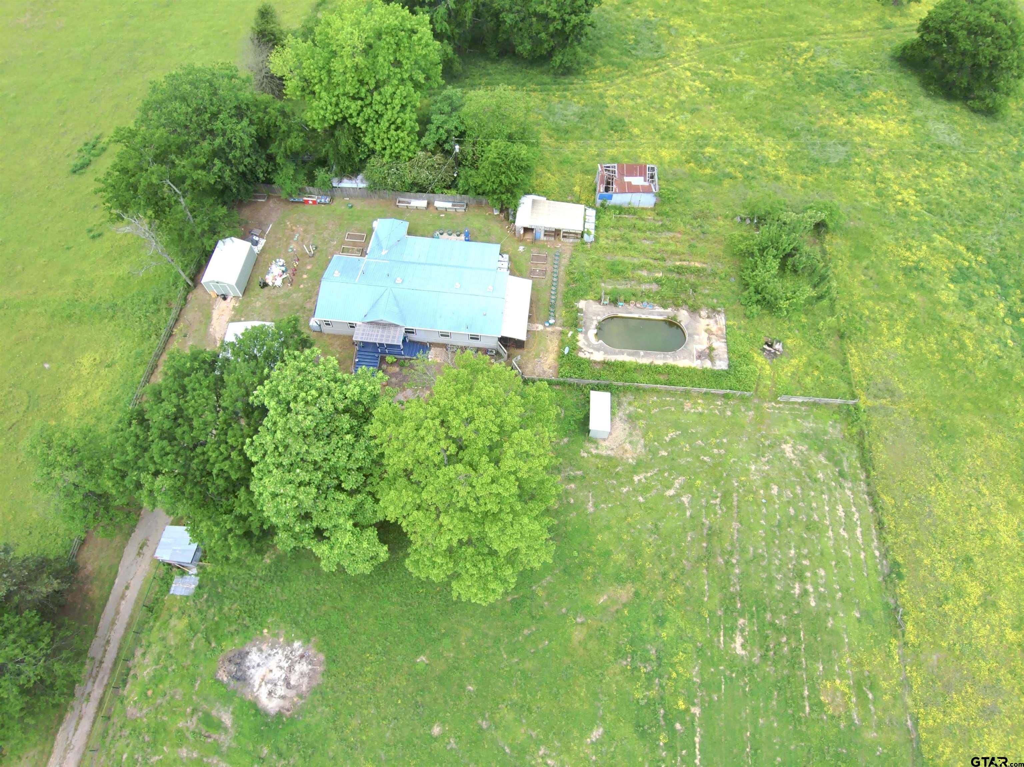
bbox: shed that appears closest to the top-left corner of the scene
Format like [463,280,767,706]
[201,236,255,296]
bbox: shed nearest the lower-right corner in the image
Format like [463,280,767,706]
[589,390,613,438]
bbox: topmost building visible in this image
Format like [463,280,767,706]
[595,165,658,207]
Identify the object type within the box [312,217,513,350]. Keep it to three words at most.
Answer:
house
